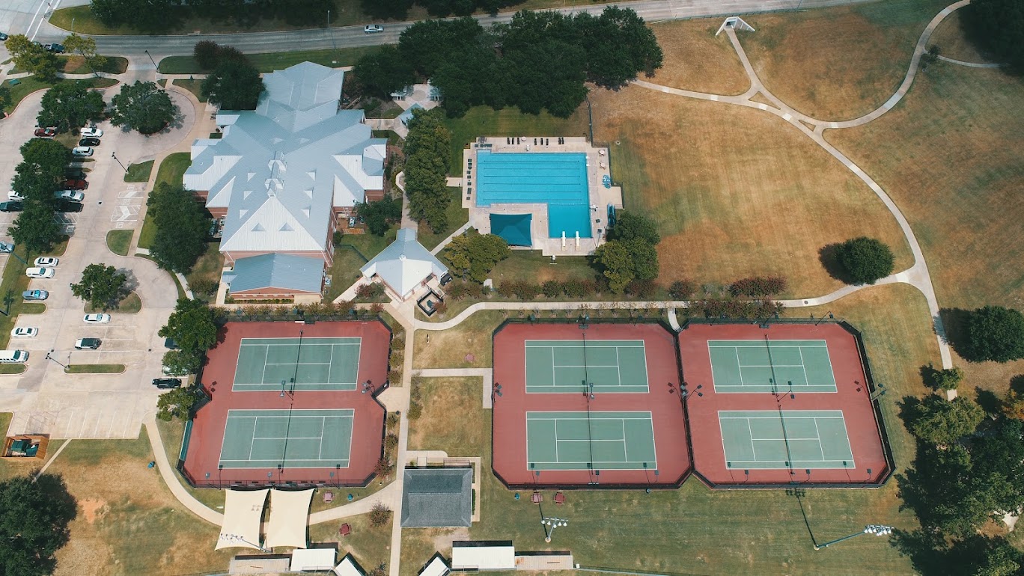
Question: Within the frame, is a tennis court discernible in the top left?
No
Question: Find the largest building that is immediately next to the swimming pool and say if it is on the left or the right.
left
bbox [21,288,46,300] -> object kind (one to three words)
vehicle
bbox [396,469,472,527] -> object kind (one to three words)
building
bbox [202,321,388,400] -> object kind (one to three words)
tennis court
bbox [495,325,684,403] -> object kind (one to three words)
tennis court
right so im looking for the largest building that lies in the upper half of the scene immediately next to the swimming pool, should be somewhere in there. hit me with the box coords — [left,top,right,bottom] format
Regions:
[184,60,390,300]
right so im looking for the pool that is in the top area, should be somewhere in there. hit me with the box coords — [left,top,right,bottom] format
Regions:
[462,136,623,256]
